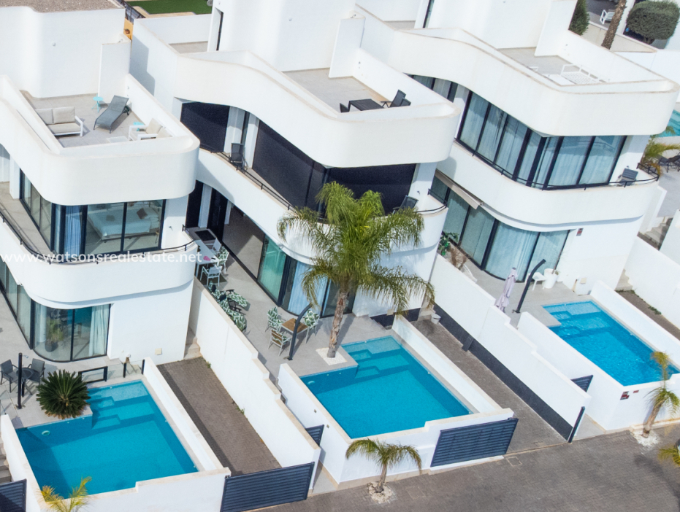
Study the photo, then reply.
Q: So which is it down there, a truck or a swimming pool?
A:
swimming pool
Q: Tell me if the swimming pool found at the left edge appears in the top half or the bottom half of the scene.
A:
bottom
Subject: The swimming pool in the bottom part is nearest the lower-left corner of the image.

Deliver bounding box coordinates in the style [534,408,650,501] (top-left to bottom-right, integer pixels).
[20,380,196,500]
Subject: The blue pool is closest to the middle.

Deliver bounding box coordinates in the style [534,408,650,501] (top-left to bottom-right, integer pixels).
[310,334,467,435]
